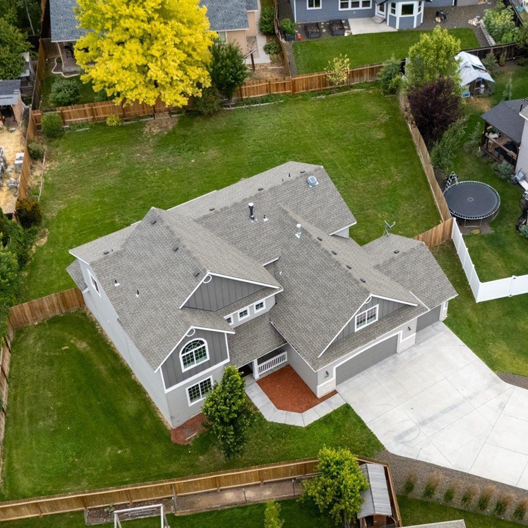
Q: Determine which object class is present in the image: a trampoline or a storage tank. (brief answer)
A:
trampoline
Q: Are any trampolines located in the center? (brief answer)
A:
No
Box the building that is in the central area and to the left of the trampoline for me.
[65,162,459,428]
